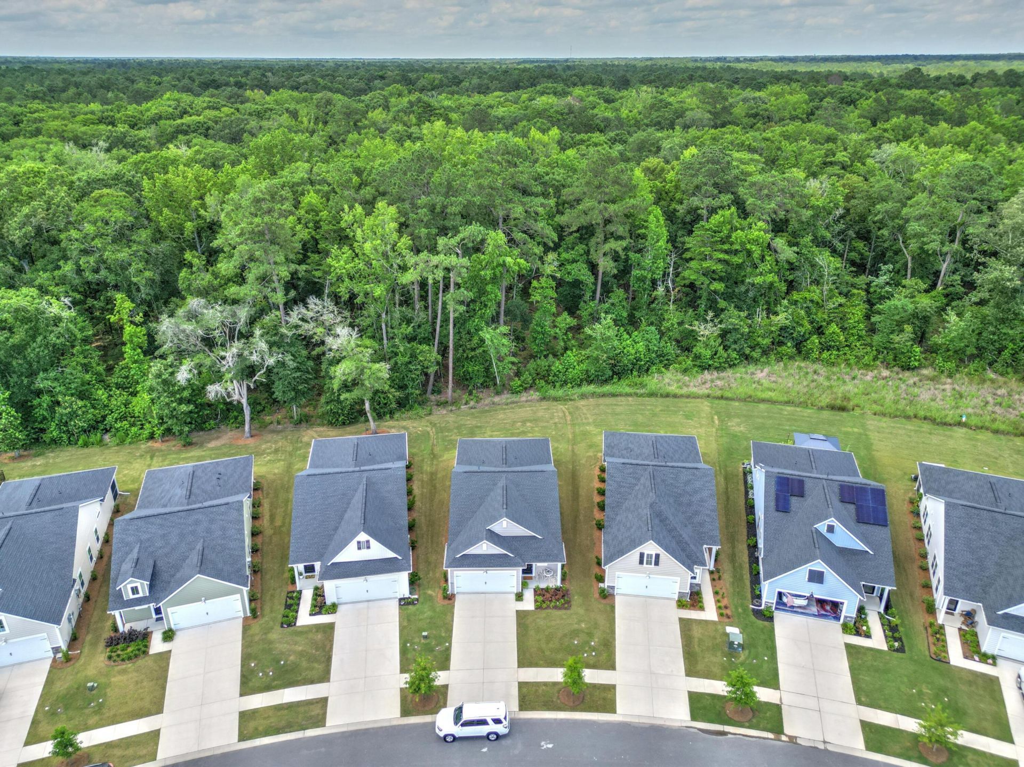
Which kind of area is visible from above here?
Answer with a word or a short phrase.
residential area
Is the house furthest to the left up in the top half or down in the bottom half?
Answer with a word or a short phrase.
bottom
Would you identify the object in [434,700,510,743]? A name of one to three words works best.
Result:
car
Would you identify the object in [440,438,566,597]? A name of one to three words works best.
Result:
house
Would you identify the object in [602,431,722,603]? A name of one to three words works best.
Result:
house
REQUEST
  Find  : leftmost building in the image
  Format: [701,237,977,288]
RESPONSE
[0,469,139,672]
